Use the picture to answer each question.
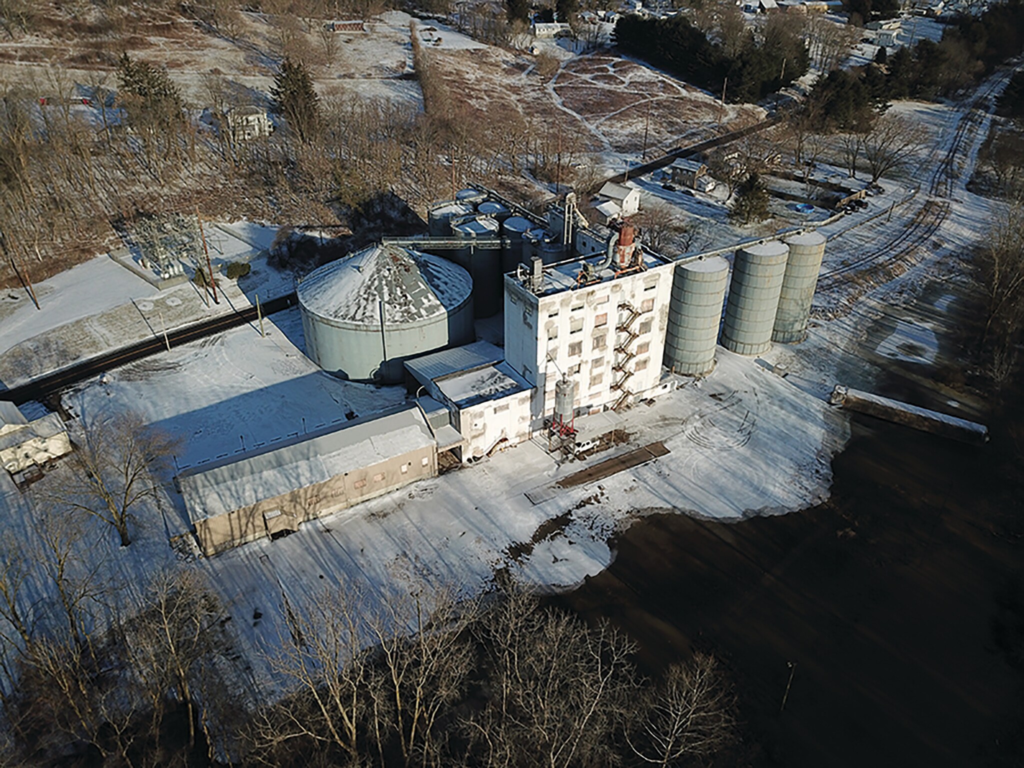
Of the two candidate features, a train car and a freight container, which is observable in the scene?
train car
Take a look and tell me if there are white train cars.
No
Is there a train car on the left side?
No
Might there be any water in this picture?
Yes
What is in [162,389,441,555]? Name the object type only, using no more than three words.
shed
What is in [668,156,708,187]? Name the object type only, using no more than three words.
house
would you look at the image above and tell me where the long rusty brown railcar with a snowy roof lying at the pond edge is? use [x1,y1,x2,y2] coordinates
[835,384,989,448]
